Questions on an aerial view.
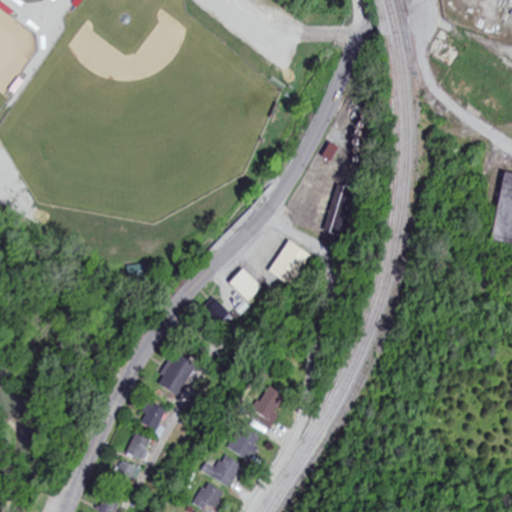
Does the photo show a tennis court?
No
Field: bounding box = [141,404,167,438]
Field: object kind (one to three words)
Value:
house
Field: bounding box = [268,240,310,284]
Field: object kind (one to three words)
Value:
building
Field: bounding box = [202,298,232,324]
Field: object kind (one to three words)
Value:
house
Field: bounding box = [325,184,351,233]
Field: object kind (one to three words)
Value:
barn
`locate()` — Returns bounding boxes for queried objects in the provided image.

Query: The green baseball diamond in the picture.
[0,0,282,225]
